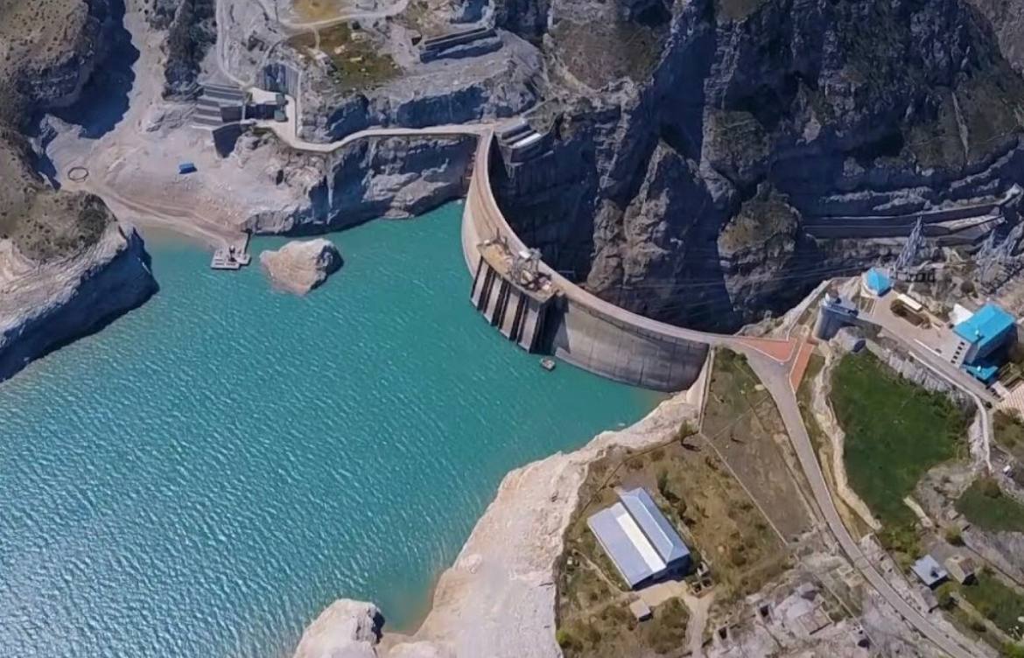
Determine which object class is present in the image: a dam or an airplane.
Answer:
dam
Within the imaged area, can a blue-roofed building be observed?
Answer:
Yes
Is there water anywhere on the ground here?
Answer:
Yes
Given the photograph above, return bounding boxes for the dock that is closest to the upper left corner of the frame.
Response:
[211,231,252,269]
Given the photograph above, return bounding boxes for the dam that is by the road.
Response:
[460,129,712,393]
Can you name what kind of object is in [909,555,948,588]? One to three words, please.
shed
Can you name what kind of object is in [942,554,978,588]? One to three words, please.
house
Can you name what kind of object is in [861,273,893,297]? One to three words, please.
building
